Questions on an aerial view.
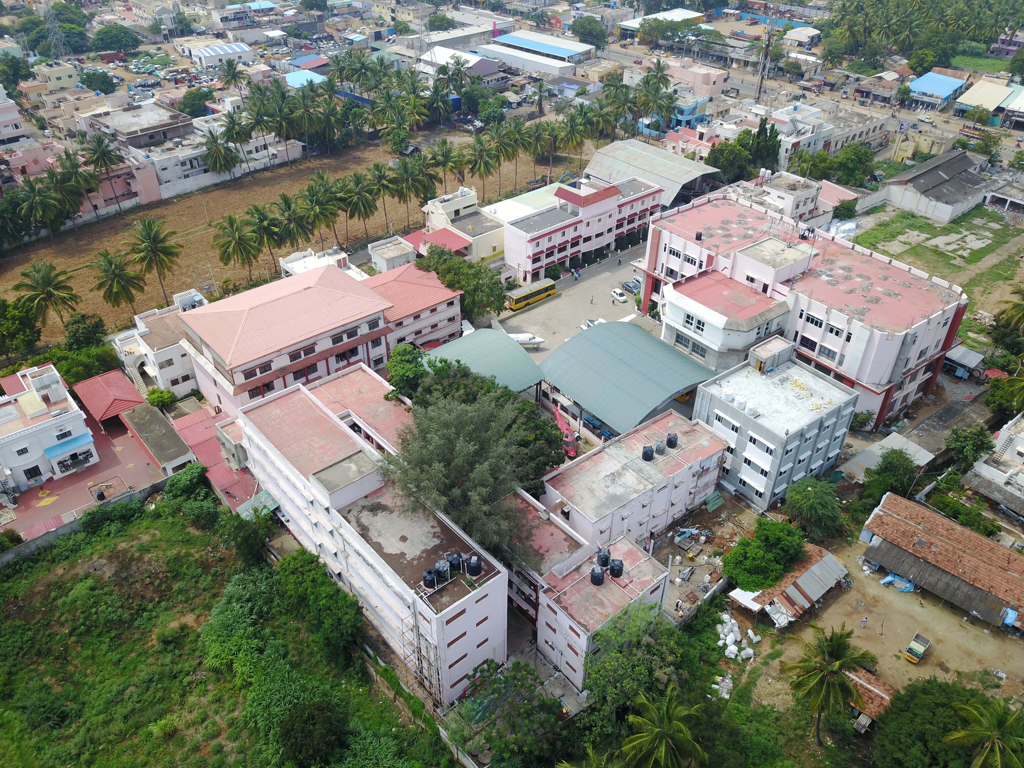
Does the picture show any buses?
Yes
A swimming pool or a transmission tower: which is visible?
transmission tower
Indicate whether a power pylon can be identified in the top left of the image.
Yes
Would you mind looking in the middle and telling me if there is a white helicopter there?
No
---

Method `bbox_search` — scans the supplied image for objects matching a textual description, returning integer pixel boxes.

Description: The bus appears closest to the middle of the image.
[506,277,562,314]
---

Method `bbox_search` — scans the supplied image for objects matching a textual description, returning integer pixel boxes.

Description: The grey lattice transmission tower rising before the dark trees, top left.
[39,0,77,61]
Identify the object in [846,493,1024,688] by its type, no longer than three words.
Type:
building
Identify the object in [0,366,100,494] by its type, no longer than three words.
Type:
house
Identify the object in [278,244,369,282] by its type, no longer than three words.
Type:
house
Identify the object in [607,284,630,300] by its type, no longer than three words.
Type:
car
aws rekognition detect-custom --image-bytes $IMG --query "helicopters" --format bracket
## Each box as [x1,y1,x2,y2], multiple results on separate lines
[548,385,577,450]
